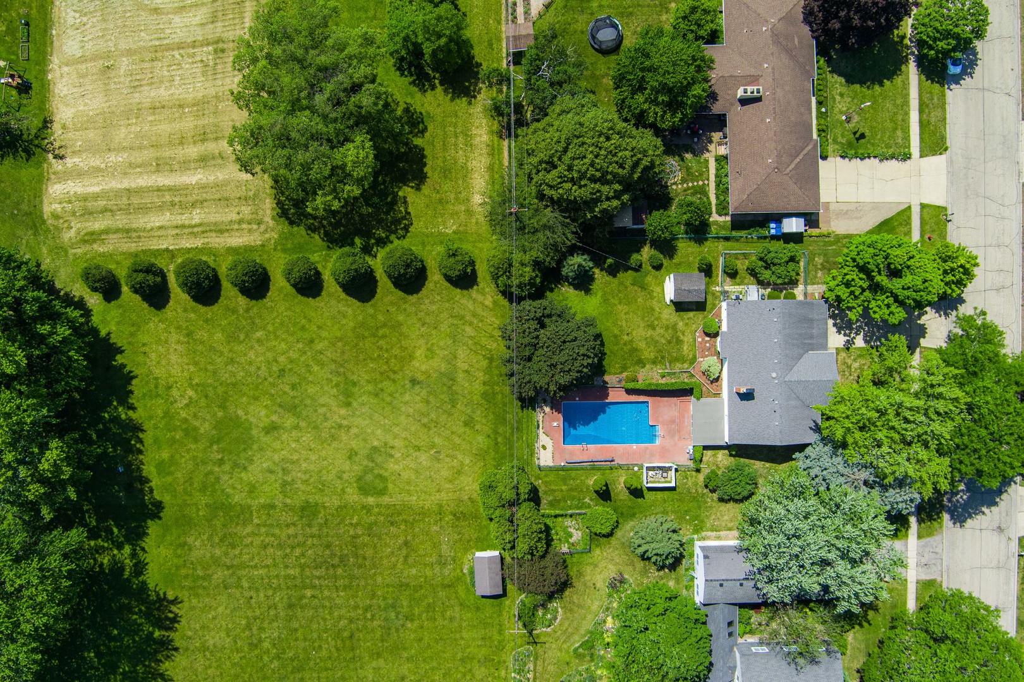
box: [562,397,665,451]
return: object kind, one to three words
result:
swimming pool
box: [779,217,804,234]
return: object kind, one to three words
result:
shed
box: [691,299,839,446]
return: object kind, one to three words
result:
house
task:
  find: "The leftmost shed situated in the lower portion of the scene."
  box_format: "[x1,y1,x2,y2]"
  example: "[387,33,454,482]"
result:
[474,552,503,599]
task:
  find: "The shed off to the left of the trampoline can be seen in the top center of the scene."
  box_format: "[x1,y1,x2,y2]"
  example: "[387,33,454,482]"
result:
[506,23,534,56]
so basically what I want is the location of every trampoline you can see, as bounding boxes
[588,12,624,54]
